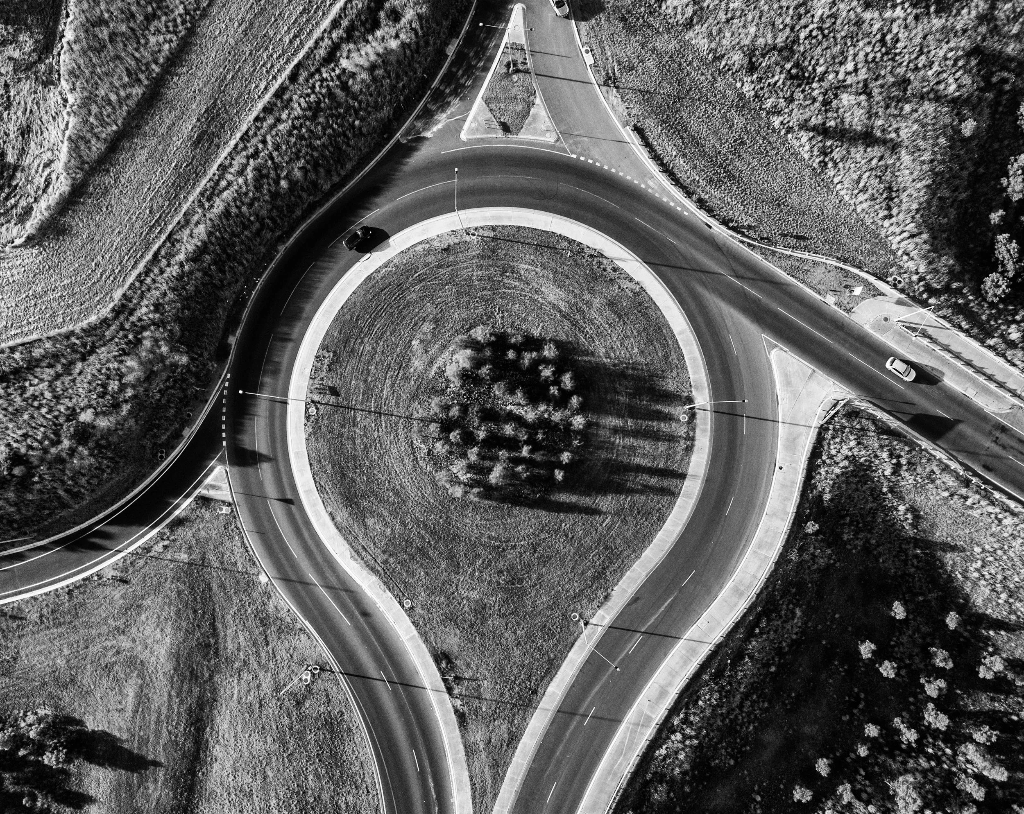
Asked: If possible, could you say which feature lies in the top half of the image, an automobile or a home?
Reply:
automobile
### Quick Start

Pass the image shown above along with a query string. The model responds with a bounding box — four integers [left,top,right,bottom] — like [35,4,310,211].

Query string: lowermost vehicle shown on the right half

[881,355,916,383]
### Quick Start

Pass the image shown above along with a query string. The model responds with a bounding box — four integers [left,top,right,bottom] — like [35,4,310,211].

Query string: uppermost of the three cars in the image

[545,0,567,20]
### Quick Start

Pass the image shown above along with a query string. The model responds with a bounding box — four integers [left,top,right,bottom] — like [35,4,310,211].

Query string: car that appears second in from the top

[342,223,374,252]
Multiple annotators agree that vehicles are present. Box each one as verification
[881,355,916,383]
[545,0,567,20]
[342,223,374,252]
